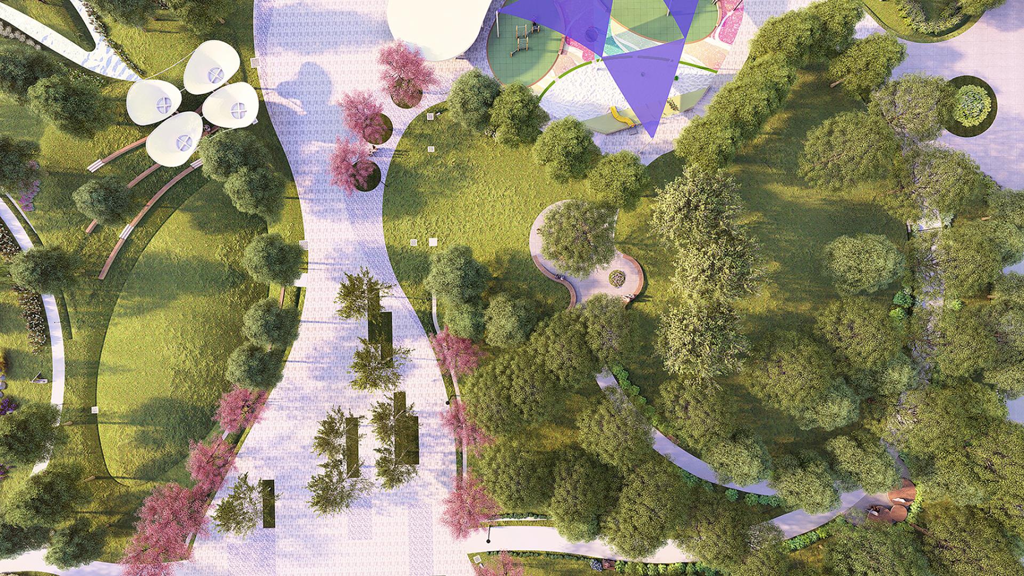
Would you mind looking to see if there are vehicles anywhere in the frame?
No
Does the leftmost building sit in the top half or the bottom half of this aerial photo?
top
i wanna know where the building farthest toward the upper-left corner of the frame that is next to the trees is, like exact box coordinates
[387,0,493,62]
